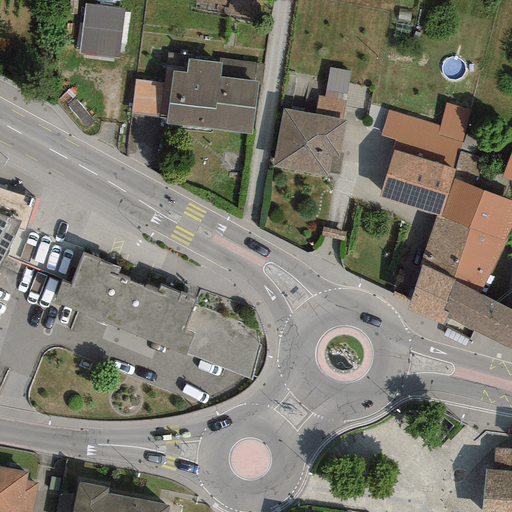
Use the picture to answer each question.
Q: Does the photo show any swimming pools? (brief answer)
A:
Yes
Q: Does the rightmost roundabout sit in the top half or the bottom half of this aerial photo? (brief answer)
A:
bottom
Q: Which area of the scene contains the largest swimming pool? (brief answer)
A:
top right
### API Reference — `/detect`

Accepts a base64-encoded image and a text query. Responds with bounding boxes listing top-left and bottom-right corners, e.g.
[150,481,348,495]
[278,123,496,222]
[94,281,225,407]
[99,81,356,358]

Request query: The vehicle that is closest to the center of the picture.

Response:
[245,238,269,254]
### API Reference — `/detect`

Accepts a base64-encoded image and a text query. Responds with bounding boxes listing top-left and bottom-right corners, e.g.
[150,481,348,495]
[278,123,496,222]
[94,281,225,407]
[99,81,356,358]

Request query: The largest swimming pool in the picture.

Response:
[442,51,467,80]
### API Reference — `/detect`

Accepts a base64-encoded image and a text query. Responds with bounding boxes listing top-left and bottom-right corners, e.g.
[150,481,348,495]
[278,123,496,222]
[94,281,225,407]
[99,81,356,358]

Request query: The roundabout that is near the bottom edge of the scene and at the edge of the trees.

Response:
[199,406,303,510]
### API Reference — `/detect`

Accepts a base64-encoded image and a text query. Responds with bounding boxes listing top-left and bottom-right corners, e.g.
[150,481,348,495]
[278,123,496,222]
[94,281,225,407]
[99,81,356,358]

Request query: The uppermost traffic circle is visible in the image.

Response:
[292,302,396,406]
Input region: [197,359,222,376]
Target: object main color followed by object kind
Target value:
white vehicle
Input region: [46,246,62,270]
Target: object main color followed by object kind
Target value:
white vehicle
